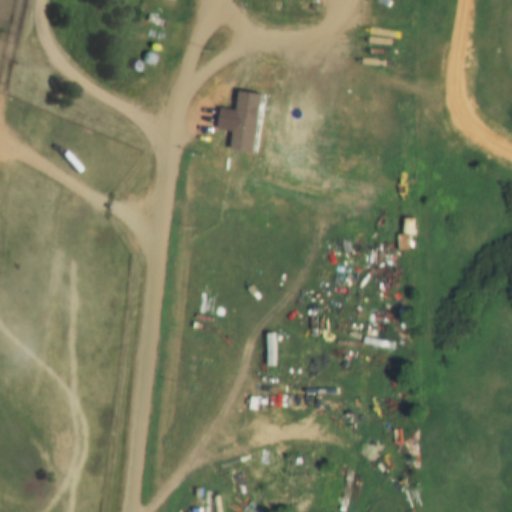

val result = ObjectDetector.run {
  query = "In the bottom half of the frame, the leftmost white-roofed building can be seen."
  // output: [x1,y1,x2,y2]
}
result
[266,332,278,366]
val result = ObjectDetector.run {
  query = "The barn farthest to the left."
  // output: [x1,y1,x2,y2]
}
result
[218,92,266,152]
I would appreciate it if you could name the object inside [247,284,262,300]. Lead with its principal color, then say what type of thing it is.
white camper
